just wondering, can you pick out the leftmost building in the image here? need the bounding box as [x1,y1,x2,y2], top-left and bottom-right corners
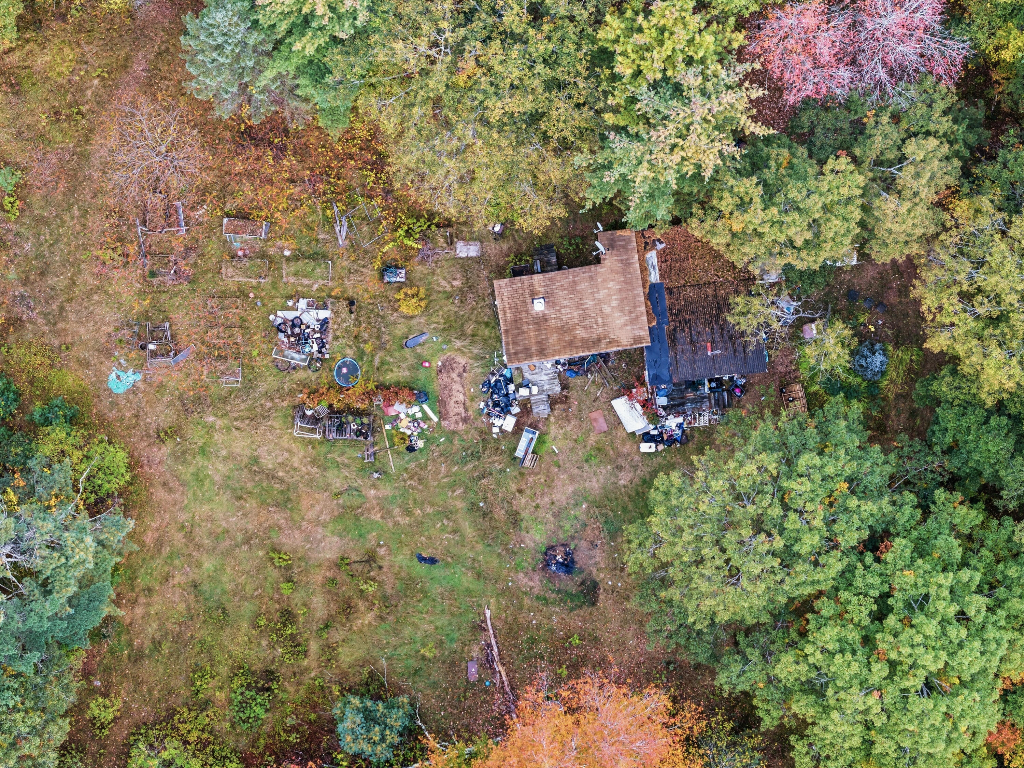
[493,226,652,368]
